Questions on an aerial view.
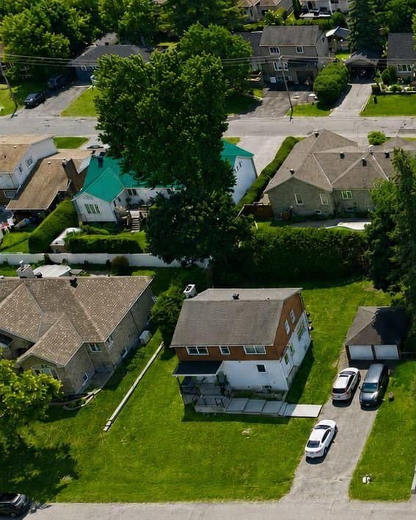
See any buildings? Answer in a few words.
Yes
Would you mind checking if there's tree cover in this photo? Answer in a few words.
Yes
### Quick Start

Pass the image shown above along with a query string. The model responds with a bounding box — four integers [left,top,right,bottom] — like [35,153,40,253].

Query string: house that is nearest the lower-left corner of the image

[0,264,148,390]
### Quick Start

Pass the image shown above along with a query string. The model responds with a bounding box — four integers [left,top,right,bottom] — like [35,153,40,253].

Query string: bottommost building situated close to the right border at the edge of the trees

[340,296,416,364]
